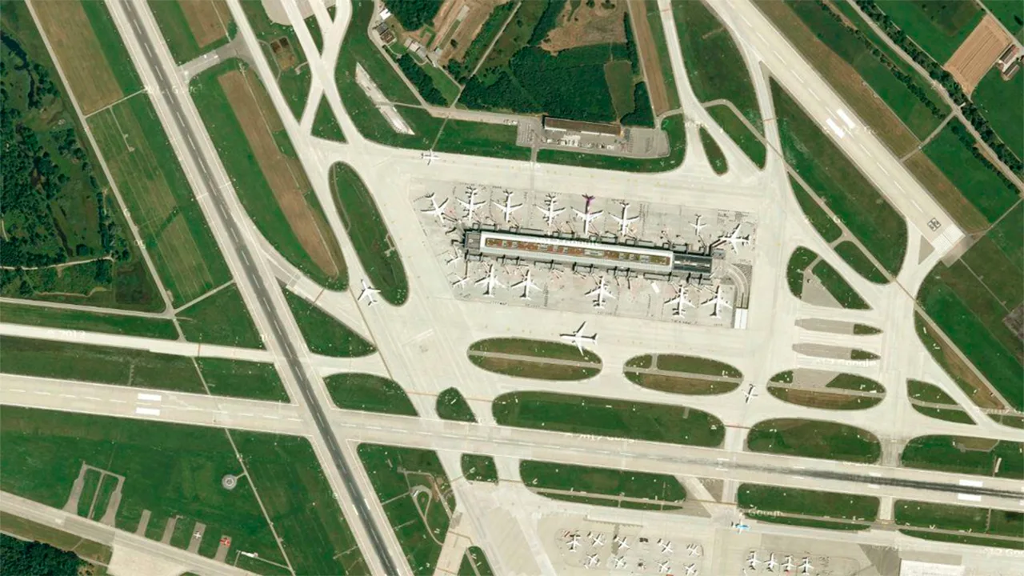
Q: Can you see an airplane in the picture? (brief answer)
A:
Yes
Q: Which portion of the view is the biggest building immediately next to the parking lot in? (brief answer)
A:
center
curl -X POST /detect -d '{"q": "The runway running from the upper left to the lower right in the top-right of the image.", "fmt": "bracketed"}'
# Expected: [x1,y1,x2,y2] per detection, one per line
[709,0,964,257]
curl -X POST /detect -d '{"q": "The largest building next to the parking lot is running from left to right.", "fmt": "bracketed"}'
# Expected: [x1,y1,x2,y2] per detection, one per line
[466,232,712,275]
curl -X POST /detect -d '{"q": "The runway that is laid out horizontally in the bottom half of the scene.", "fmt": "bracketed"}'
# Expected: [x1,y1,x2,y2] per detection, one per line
[0,373,1024,511]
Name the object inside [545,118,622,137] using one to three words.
building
